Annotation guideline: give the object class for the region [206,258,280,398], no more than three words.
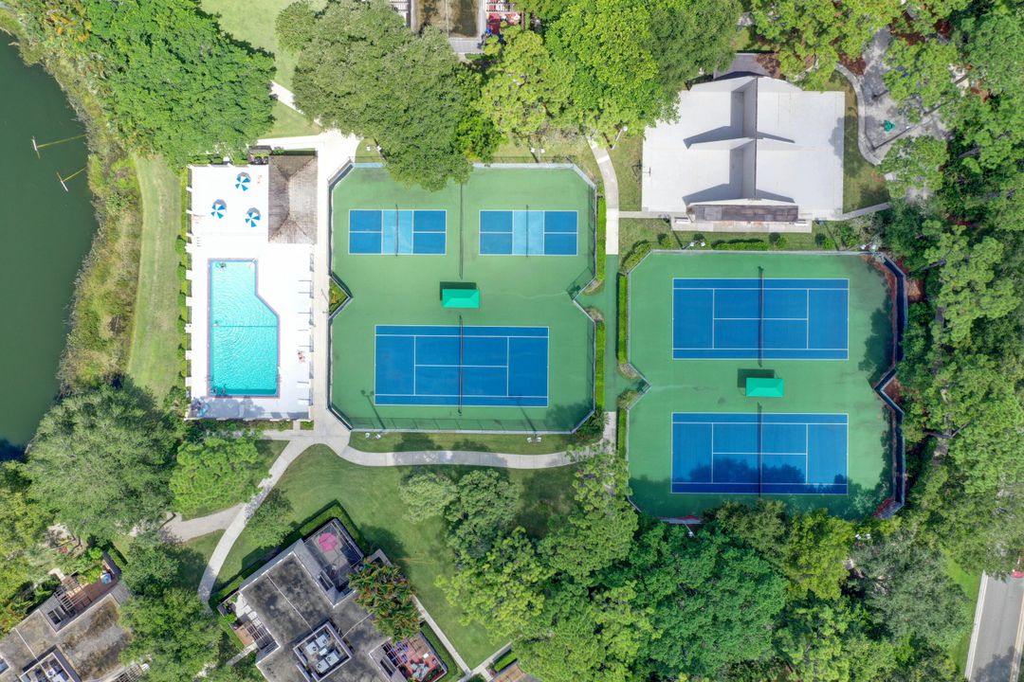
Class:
swimming pool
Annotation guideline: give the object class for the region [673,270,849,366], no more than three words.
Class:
tennis court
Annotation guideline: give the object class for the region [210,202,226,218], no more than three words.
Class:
umbrella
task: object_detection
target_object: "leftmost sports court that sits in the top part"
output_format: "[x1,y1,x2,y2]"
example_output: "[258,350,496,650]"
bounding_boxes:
[349,204,447,257]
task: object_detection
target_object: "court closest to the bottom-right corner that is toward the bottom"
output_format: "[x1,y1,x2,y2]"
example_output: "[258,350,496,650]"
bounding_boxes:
[671,405,848,502]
